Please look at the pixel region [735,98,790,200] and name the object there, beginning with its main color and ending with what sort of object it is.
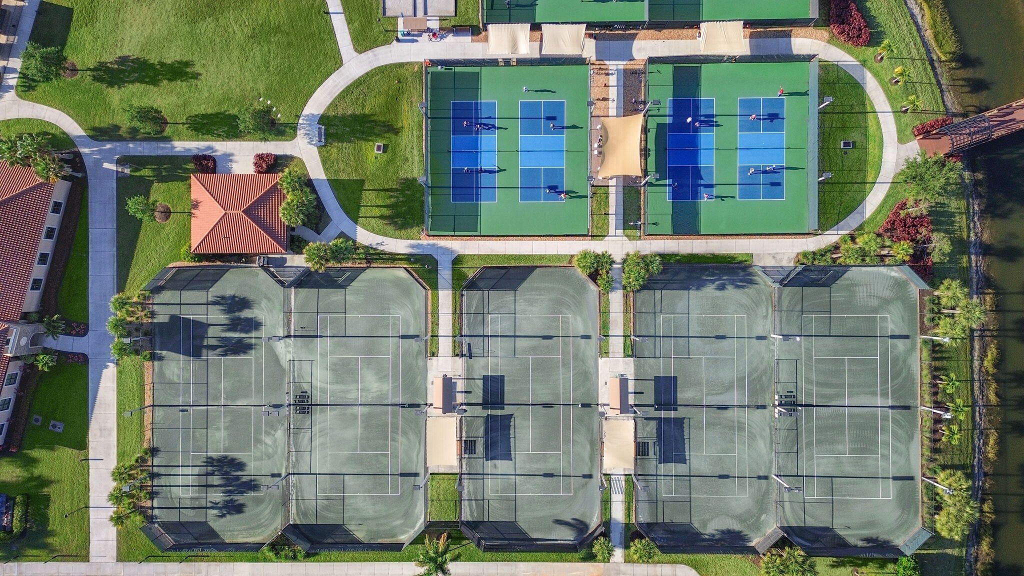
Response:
blue sports court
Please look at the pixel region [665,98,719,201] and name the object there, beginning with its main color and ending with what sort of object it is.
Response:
blue sports court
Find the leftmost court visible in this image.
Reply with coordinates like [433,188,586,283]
[152,267,289,544]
